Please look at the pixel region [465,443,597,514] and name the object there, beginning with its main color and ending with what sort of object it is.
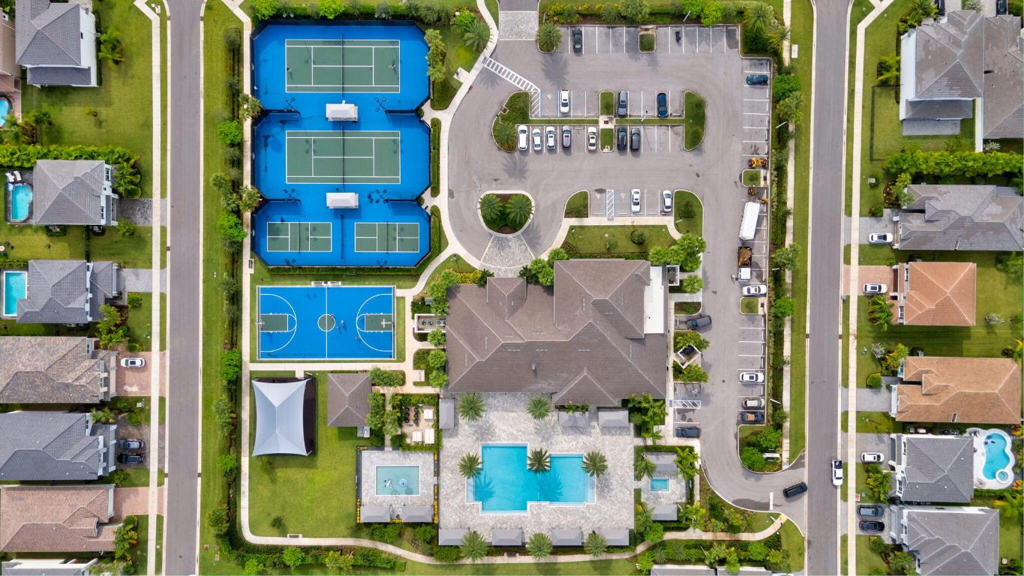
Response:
blue swimming pool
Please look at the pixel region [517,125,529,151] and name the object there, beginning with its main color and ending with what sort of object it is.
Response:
white vehicle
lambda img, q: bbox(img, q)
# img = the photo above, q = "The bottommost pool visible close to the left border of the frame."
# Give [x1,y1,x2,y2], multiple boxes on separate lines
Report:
[2,271,28,316]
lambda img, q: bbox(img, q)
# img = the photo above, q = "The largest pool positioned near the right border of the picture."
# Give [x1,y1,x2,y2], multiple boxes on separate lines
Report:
[983,431,1010,481]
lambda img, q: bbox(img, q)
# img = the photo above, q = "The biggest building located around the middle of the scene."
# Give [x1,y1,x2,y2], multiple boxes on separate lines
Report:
[446,260,667,405]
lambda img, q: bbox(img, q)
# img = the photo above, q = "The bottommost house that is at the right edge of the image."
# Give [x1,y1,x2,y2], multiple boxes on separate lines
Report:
[885,500,999,576]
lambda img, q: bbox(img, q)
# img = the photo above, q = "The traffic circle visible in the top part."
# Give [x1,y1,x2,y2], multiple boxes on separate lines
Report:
[479,191,534,236]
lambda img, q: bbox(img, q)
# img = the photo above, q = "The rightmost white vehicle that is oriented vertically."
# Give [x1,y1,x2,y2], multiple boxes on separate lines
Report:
[831,457,844,486]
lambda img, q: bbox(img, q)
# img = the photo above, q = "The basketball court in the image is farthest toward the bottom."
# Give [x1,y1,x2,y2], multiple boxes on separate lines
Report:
[257,285,396,360]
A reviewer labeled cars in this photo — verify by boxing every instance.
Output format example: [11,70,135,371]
[741,398,765,409]
[745,74,769,85]
[118,452,145,464]
[741,285,767,296]
[587,126,598,151]
[630,127,641,152]
[687,315,713,329]
[739,372,765,383]
[120,438,146,450]
[630,188,642,213]
[657,93,668,119]
[561,125,572,149]
[532,128,542,152]
[739,412,764,423]
[559,90,570,116]
[571,28,583,53]
[859,452,884,462]
[782,482,808,498]
[617,91,629,117]
[675,426,700,437]
[517,125,529,151]
[862,283,887,294]
[867,233,893,244]
[994,0,1009,16]
[121,357,147,368]
[933,0,947,16]
[662,189,673,213]
[616,125,628,151]
[858,520,885,532]
[546,127,555,150]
